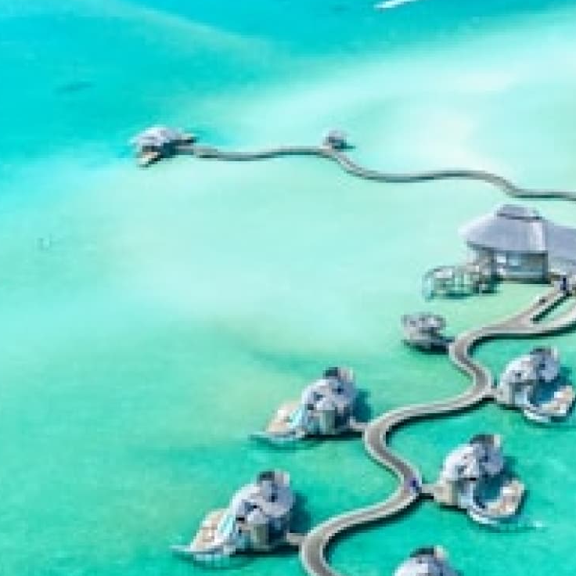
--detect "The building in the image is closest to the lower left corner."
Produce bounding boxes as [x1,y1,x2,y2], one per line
[178,474,303,571]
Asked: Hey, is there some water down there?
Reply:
Yes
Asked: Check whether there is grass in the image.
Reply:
No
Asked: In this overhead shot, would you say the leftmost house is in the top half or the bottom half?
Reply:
top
